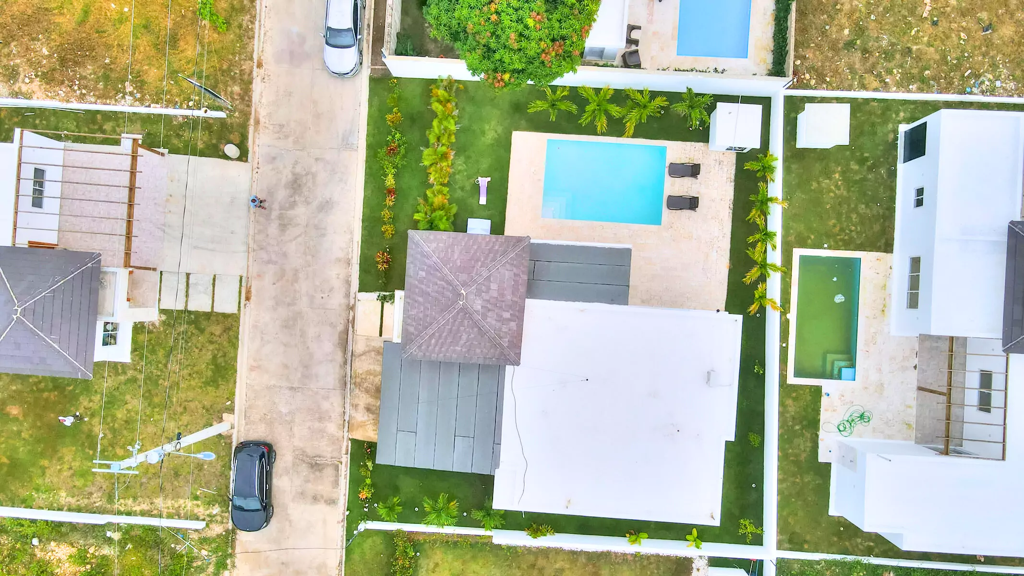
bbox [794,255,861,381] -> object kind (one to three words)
swimming pool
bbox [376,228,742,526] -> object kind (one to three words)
house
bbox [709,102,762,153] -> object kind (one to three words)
shed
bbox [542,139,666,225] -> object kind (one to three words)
swimming pool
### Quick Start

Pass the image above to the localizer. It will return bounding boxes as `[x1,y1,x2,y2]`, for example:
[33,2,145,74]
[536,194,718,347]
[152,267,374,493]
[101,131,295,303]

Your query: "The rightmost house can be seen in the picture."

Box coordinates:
[825,109,1024,560]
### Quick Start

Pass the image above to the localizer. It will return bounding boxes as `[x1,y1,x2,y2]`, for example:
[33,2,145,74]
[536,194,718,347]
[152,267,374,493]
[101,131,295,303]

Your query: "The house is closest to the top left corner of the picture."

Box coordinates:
[0,129,159,381]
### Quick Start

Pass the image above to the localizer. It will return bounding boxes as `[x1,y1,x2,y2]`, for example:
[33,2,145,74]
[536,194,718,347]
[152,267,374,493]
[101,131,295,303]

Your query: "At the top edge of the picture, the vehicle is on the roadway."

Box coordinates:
[317,0,365,77]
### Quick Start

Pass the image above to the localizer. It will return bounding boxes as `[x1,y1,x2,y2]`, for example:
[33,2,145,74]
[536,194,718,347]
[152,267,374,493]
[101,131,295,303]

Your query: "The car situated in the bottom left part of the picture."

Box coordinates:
[225,439,274,532]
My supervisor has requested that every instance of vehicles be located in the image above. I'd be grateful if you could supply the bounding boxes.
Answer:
[225,439,274,532]
[317,0,365,77]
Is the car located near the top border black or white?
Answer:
white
